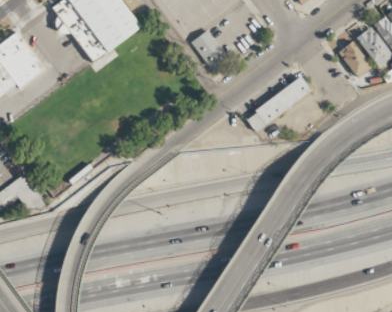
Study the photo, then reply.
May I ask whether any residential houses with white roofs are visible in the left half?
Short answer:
Yes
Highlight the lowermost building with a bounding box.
[0,178,46,209]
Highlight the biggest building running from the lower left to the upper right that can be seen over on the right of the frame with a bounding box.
[256,76,312,126]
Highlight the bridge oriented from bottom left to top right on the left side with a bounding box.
[54,135,190,312]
